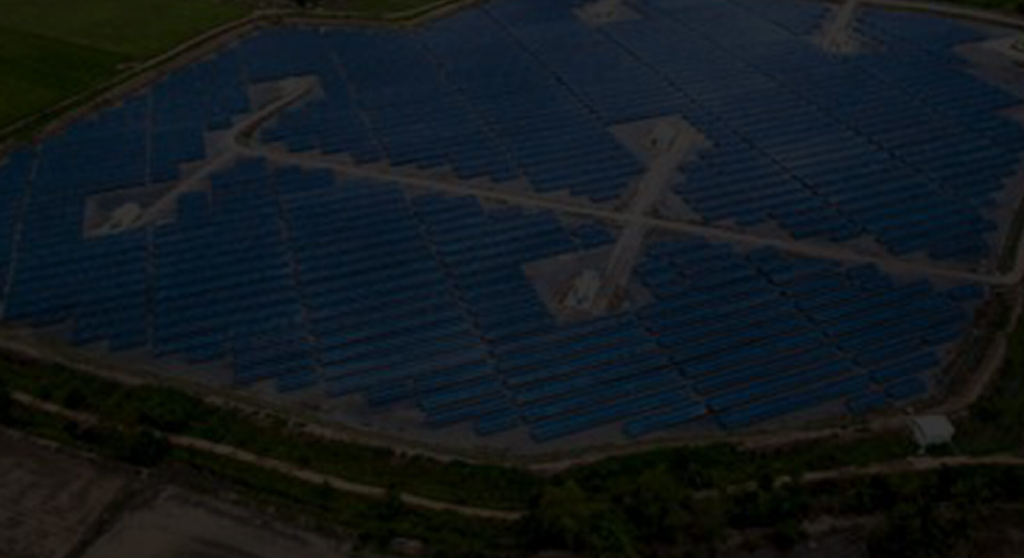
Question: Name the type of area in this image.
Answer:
solar farm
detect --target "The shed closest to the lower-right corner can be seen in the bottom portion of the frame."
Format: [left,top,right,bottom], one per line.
[912,412,952,446]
